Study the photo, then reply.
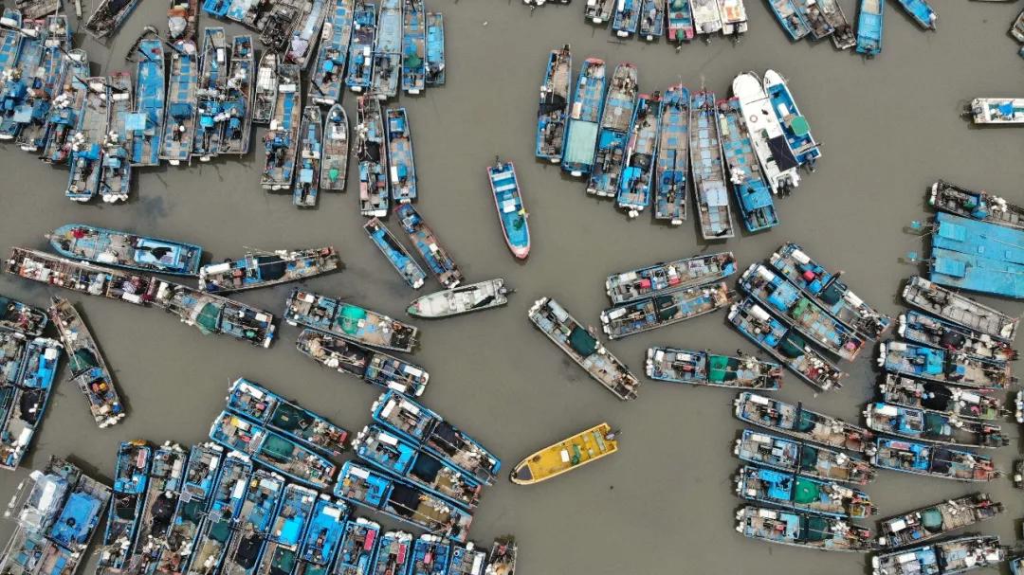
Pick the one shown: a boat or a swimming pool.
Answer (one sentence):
Looking from above, you can make out a boat.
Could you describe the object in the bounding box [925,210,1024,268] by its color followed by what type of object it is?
blue ship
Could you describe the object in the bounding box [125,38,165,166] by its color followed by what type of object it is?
blue boat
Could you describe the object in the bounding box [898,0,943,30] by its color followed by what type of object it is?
blue boat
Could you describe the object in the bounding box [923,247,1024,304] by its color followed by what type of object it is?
blue ship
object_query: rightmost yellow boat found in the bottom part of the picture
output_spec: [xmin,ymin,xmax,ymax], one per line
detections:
[508,423,623,483]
